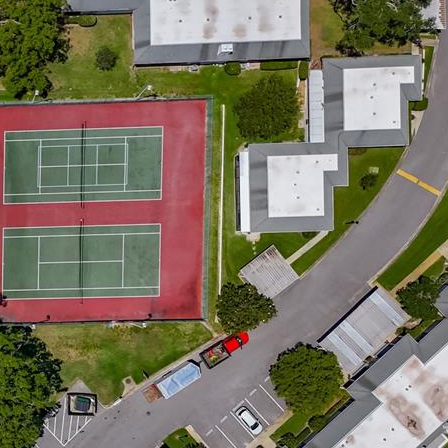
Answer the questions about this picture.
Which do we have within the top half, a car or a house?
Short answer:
house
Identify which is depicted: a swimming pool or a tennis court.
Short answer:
tennis court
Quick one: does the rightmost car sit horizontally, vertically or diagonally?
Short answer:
diagonally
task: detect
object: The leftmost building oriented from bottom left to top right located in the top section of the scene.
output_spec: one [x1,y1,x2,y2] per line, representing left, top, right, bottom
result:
[235,55,422,233]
